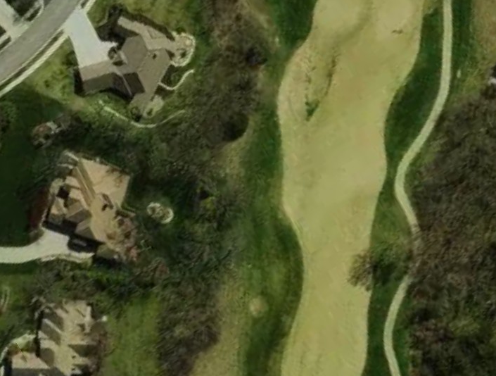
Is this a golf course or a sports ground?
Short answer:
golf course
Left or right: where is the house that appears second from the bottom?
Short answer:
left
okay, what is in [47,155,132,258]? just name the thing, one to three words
house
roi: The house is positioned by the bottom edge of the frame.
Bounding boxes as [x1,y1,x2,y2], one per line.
[8,300,97,376]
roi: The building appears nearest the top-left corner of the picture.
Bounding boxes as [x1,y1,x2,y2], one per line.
[78,12,180,118]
